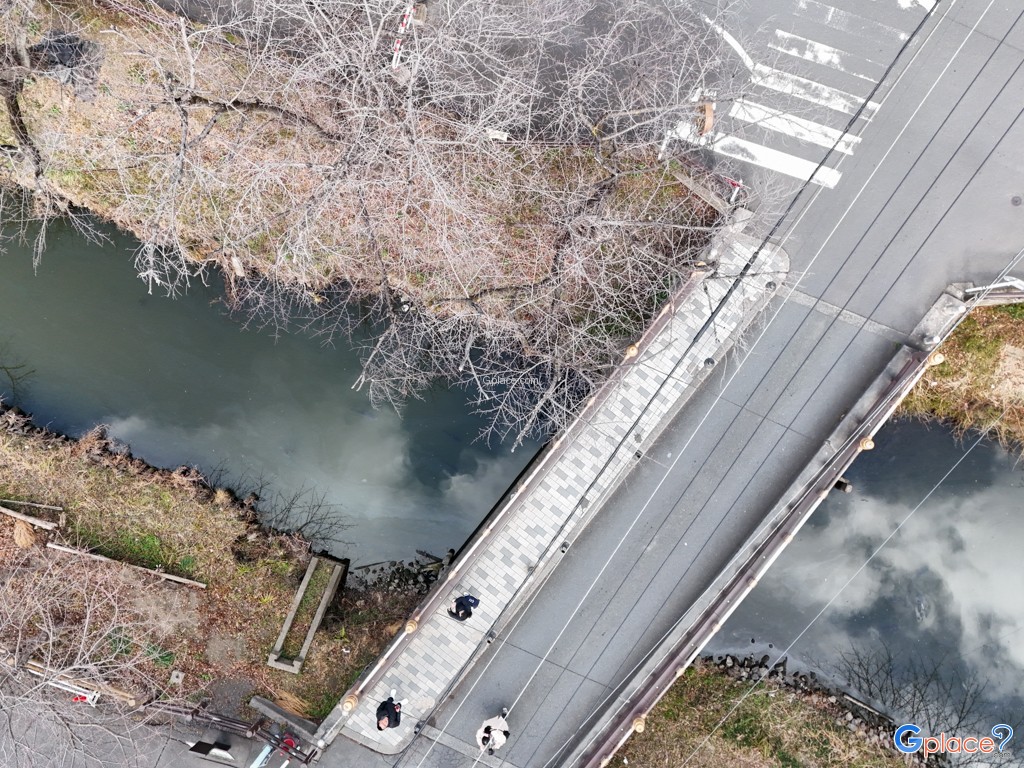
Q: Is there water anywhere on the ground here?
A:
Yes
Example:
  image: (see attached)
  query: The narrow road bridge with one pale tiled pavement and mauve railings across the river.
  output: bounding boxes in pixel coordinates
[327,236,984,768]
